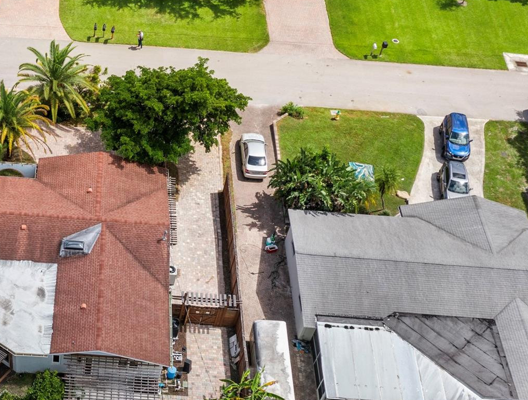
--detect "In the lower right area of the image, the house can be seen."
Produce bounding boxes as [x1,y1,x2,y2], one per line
[285,196,528,400]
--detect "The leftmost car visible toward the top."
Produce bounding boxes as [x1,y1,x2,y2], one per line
[242,133,272,181]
